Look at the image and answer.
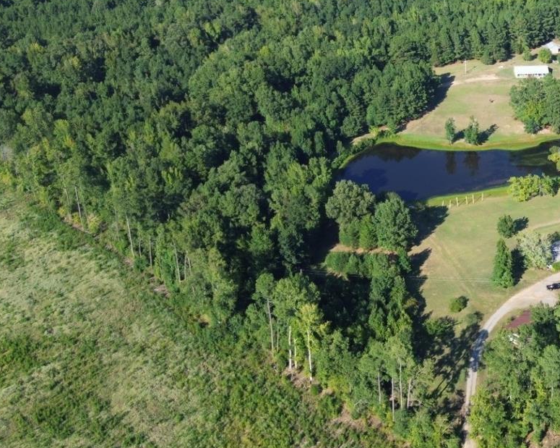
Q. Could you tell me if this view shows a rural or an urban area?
rural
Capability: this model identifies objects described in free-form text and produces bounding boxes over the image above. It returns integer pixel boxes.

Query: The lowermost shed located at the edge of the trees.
[507,305,541,332]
